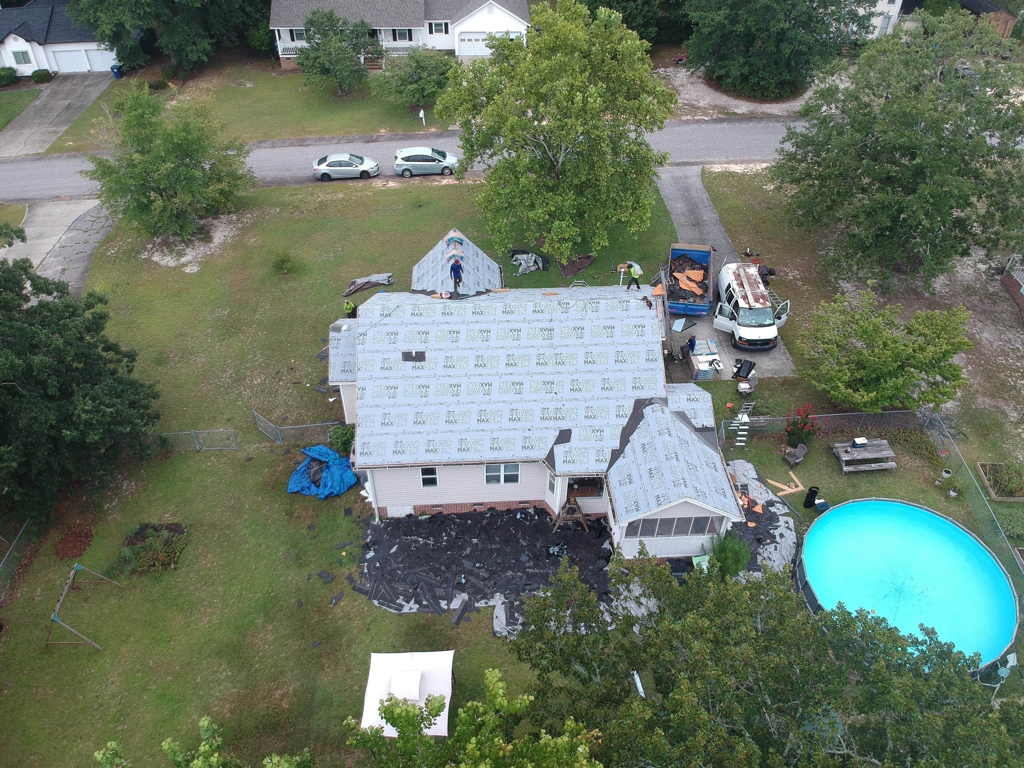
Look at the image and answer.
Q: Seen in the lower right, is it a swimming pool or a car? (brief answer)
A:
swimming pool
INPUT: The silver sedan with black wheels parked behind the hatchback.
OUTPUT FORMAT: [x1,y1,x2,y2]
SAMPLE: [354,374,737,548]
[311,154,379,181]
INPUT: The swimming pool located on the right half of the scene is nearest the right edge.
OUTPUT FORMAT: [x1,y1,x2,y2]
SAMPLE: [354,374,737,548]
[783,498,1020,687]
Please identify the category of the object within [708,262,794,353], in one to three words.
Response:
van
